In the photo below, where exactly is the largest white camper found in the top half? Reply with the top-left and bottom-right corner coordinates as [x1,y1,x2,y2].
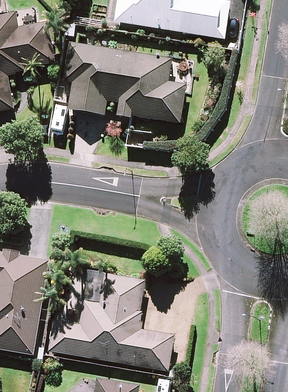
[52,106,69,140]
